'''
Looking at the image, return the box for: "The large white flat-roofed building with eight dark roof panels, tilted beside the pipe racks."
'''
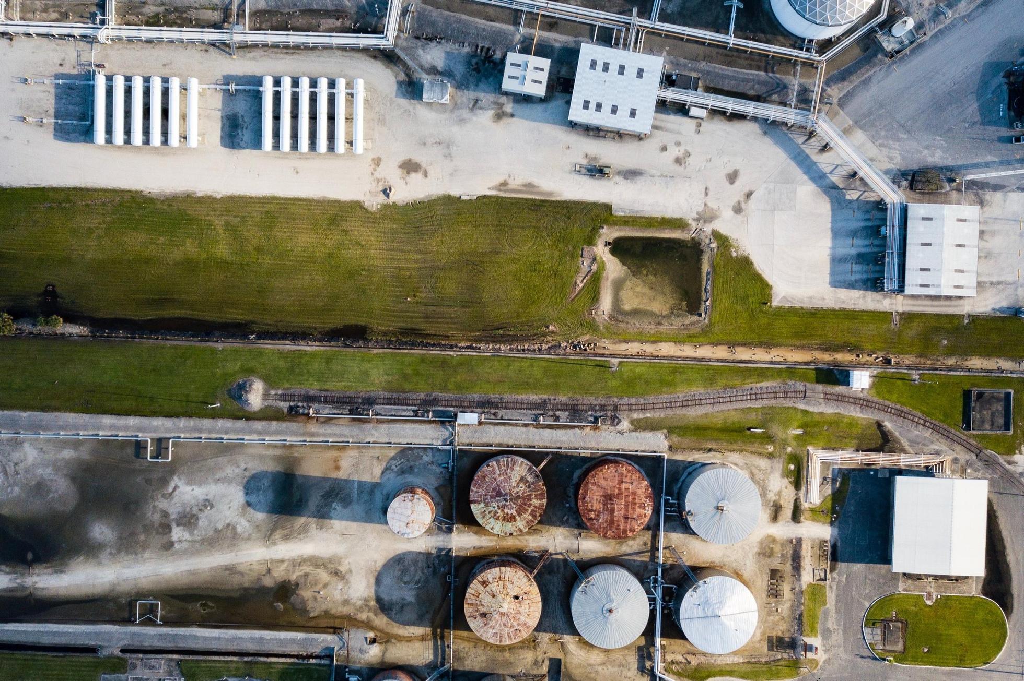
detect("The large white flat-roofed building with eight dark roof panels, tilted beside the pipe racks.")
[568,43,664,135]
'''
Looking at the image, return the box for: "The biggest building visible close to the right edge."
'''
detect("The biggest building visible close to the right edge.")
[886,476,988,576]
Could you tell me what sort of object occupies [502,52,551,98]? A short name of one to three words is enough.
building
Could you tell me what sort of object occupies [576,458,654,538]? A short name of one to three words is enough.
storage tank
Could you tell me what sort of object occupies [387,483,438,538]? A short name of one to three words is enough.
storage tank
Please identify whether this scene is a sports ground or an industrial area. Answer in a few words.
industrial area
